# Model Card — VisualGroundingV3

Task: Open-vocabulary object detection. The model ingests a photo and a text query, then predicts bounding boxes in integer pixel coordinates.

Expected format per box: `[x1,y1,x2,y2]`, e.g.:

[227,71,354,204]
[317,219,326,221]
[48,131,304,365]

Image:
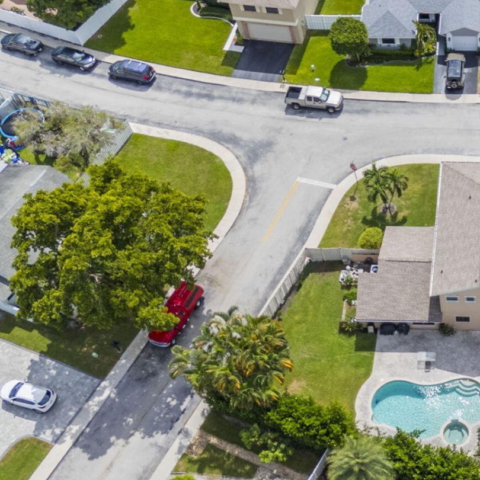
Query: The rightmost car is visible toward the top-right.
[443,57,467,90]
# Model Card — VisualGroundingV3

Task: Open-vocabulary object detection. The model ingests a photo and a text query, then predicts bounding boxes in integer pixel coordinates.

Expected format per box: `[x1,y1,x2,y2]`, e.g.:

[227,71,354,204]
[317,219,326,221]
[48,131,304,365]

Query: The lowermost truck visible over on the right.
[283,86,344,113]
